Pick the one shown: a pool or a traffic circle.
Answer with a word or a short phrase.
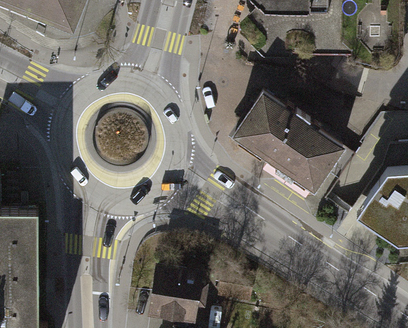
traffic circle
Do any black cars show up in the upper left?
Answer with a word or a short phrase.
Yes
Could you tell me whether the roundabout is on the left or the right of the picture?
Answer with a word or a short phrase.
left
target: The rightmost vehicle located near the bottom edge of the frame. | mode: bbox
[208,302,222,328]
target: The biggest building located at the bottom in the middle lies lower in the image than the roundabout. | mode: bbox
[148,262,214,324]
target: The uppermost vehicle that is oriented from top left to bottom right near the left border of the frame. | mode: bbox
[8,92,36,115]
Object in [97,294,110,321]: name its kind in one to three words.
vehicle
